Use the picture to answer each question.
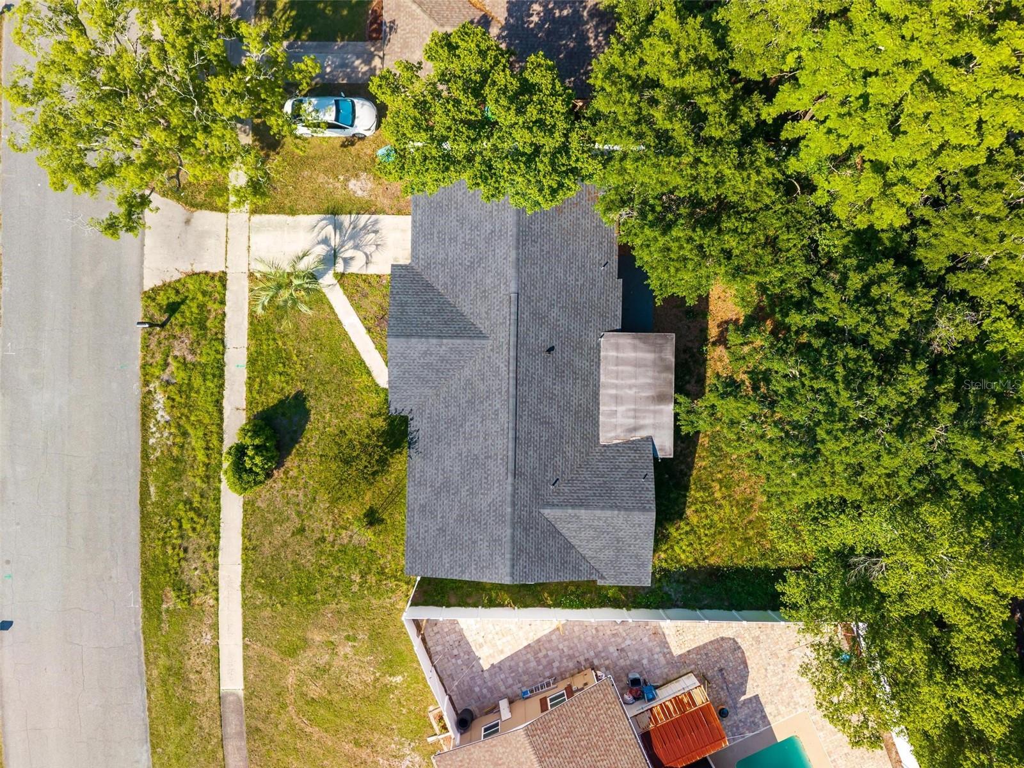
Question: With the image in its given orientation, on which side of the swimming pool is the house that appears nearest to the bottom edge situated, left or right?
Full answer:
You can see the house that appears nearest to the bottom edge positioned to the left of the swimming pool.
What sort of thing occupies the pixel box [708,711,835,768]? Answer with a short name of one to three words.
swimming pool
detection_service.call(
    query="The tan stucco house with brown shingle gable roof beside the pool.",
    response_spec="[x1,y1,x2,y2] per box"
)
[430,665,656,768]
